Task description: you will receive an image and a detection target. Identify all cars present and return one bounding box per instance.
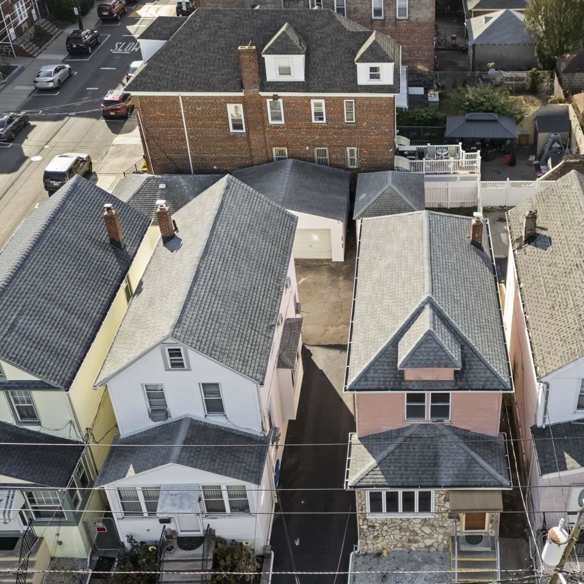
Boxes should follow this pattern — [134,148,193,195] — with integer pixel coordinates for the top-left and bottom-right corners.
[67,28,103,55]
[36,63,75,90]
[174,0,196,18]
[41,154,92,194]
[100,87,138,120]
[98,0,129,22]
[0,110,34,143]
[127,58,143,85]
